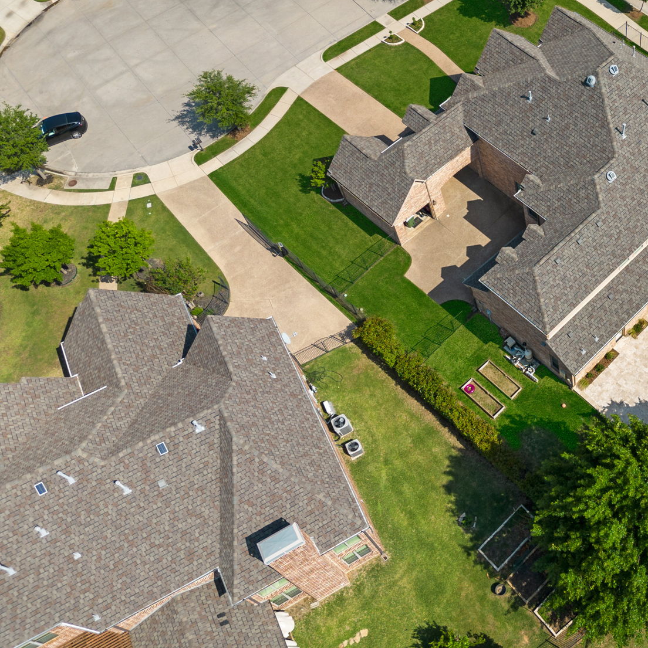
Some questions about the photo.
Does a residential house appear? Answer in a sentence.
Yes, the frame does contain a residential house.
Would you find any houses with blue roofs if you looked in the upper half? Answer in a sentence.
No, I see no house with a blue roof in the upper half.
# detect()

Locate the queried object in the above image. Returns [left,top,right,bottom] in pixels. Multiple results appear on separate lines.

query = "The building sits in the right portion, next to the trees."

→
[326,6,648,387]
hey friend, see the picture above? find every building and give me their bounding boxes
[326,6,648,387]
[0,288,386,648]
